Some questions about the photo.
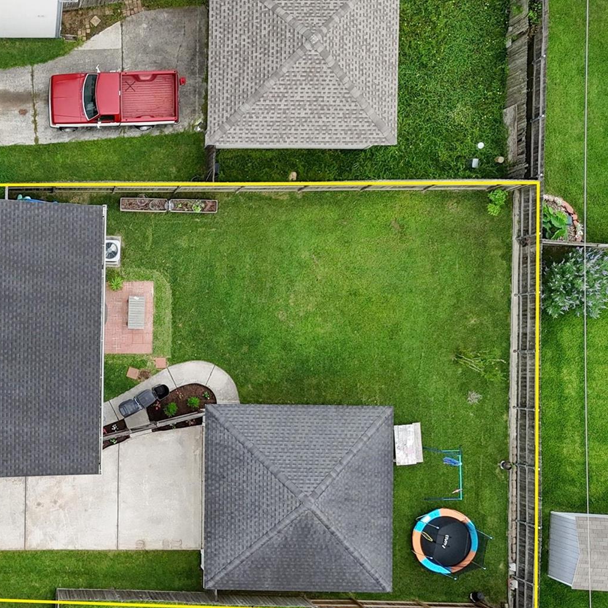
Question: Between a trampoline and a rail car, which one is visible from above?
trampoline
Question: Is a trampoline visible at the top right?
No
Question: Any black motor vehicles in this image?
No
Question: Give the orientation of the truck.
horizontally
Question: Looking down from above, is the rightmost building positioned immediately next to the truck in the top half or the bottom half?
top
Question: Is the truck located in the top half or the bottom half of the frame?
top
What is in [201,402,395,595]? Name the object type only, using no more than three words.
building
